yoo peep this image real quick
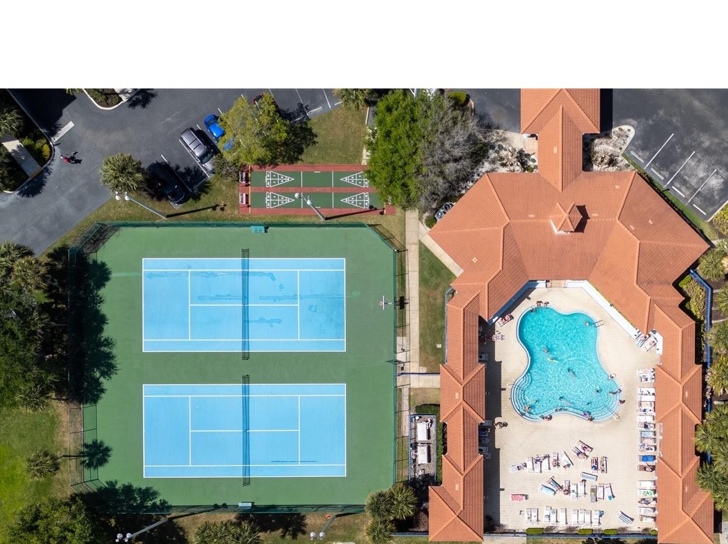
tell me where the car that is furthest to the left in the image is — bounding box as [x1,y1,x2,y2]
[146,160,185,203]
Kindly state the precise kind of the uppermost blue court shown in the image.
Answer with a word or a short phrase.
tennis court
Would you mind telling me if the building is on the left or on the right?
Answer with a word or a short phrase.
right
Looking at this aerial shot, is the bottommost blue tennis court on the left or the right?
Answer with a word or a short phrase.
left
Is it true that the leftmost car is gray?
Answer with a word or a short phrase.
No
